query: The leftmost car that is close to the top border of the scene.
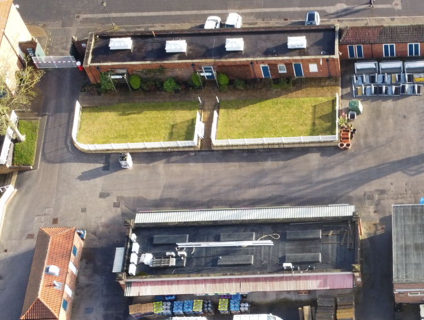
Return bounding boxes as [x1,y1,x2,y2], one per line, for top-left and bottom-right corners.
[204,15,223,29]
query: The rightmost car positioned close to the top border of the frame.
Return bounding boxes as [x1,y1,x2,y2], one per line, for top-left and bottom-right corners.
[303,8,320,26]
